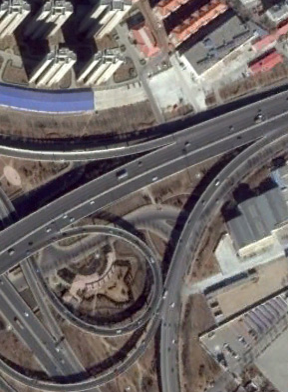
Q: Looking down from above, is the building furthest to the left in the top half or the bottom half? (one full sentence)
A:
The top half of the photo is where the building furthest to the left is.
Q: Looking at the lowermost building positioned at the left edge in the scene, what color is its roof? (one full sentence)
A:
The roof over the lowermost building positioned at the left edge appears blue.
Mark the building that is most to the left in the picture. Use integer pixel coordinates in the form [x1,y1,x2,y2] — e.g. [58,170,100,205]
[0,0,30,40]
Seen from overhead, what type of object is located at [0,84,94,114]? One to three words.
building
